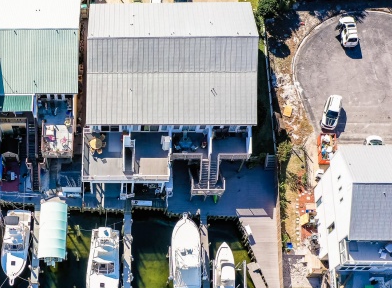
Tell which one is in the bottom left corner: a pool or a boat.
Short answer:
boat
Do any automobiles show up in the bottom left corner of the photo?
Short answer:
No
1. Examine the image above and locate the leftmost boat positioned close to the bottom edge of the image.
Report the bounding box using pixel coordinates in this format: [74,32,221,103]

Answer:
[1,210,31,282]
